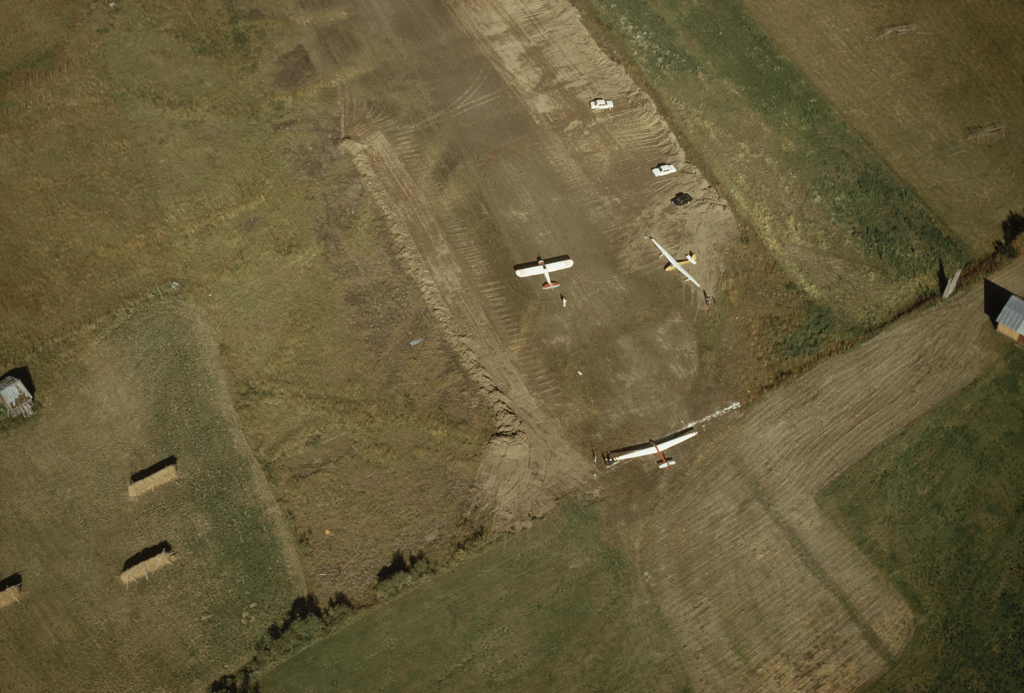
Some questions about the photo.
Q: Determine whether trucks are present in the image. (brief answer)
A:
No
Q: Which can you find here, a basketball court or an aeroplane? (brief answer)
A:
aeroplane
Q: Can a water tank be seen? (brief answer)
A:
No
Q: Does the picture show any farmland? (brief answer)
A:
Yes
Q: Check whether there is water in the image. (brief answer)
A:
No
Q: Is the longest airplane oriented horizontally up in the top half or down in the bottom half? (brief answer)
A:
bottom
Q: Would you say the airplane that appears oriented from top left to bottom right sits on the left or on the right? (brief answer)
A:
right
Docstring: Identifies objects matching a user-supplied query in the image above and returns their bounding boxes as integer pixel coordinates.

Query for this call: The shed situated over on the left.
[0,374,32,416]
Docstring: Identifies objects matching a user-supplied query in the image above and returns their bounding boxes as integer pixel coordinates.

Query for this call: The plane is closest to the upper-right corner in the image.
[651,238,701,286]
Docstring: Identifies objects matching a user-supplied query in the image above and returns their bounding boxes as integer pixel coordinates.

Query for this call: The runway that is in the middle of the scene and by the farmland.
[293,0,744,558]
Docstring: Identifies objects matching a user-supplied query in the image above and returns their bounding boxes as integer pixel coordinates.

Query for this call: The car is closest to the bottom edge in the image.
[671,194,694,207]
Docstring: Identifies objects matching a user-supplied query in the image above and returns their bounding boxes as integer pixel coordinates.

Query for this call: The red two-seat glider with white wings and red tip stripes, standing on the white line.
[613,432,700,472]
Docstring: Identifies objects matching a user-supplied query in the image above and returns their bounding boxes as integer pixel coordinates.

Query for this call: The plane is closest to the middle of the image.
[515,258,574,289]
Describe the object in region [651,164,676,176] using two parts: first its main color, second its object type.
white vehicle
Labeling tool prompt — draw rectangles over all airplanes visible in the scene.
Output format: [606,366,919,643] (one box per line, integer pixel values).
[651,238,701,286]
[613,432,700,472]
[515,258,574,289]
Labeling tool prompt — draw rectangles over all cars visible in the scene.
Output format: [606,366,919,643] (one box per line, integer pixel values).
[651,164,676,176]
[671,194,694,207]
[591,100,615,110]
